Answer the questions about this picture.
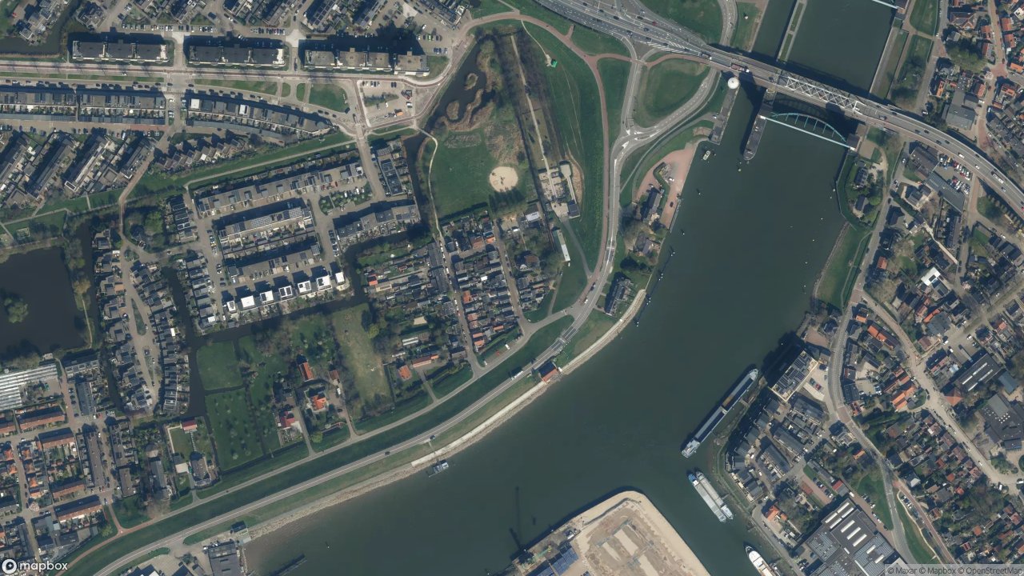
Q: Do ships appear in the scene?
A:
Yes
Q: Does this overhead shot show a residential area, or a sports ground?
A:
residential area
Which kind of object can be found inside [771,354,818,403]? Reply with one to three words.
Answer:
building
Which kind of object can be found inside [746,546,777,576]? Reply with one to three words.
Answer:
ship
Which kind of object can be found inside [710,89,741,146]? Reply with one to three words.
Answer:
pier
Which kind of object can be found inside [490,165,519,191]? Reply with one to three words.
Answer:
playground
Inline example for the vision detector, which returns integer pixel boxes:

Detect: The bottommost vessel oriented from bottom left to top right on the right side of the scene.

[683,370,756,456]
